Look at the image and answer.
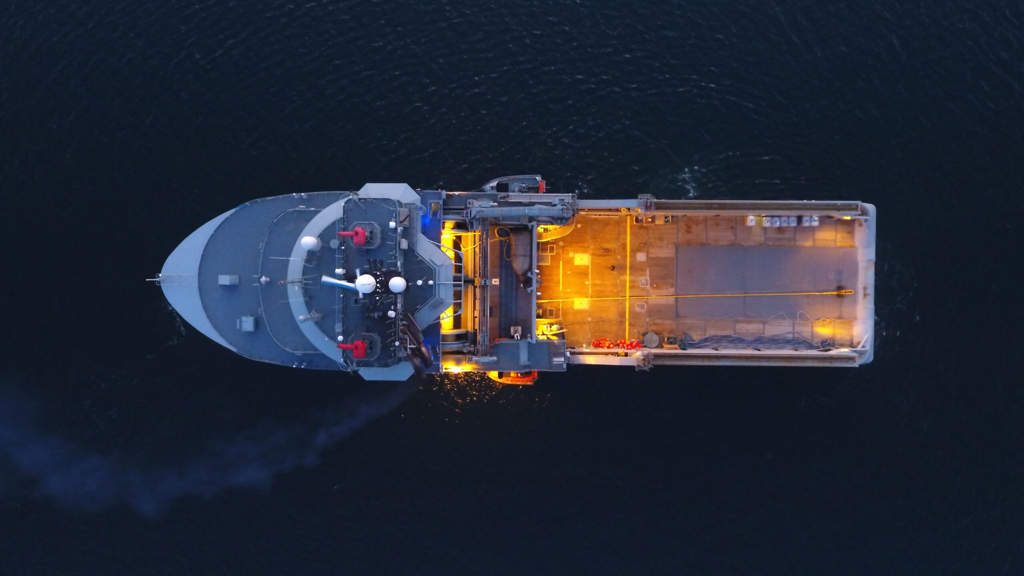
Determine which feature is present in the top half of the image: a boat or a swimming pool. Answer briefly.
boat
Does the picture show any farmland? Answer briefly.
No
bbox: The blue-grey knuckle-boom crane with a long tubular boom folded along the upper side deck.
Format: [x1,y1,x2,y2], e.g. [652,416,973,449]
[464,203,576,240]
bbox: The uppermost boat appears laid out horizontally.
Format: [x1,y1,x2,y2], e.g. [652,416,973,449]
[482,174,550,207]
